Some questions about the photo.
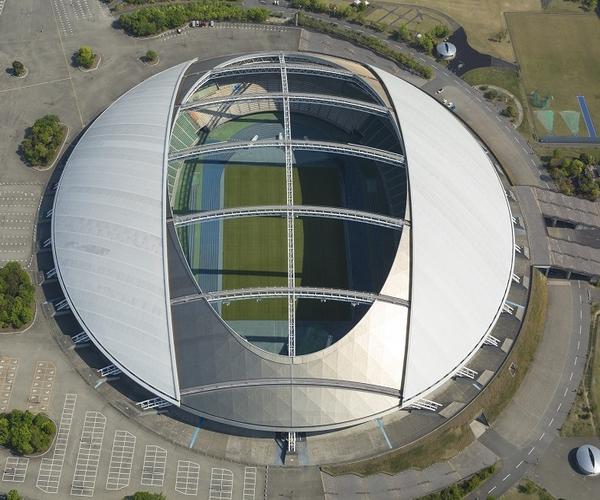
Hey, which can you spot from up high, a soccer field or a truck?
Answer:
soccer field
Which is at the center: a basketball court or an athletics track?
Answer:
athletics track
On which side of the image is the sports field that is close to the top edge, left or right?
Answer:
right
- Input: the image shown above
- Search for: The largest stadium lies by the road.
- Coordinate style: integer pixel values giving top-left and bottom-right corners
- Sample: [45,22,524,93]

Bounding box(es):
[35,47,535,465]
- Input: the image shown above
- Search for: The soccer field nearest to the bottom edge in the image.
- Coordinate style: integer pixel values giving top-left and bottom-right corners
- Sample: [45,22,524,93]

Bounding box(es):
[222,138,349,353]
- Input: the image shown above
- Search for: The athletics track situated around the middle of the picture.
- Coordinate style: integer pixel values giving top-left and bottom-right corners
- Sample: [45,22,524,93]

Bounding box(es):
[200,123,370,351]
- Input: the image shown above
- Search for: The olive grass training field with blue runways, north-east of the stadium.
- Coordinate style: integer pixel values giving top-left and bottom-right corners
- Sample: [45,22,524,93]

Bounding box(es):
[504,12,600,145]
